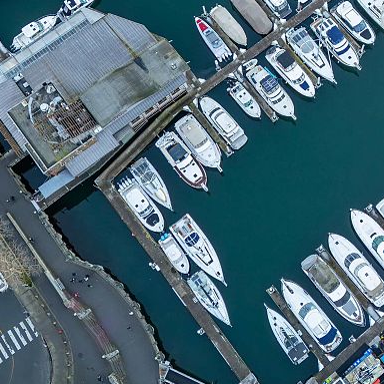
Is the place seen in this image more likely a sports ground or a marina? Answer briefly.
marina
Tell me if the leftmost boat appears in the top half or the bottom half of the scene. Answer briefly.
top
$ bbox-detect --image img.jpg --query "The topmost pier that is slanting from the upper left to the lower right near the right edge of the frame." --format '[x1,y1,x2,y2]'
[322,5,368,58]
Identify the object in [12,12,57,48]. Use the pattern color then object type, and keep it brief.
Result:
white boat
